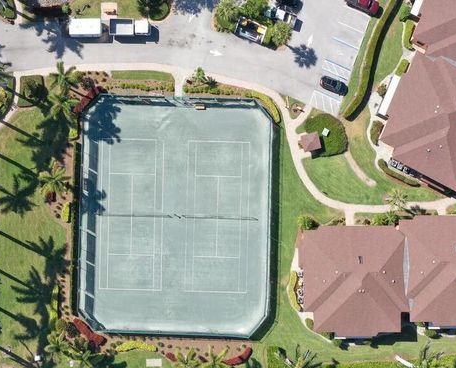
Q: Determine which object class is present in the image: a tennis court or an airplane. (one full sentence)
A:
This aerial view contains a tennis court.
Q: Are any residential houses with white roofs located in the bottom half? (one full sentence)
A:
No, no residential house with a white roof appears in the bottom half.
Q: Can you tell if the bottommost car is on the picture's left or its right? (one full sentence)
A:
It is on the right.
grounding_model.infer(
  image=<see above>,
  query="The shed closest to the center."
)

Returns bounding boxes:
[299,133,321,152]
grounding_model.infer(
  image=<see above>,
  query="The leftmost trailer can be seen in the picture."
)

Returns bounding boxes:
[69,19,107,39]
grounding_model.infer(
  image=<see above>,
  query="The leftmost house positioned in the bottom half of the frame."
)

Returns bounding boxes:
[300,226,410,339]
